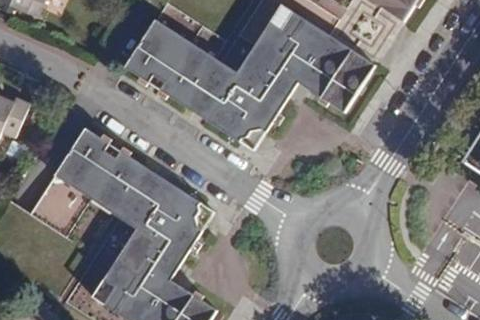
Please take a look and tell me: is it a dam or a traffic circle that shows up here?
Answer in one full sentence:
This aerial view contains a traffic circle.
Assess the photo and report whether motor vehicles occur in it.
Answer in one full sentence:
Yes, I can see a motor vehicle in this picture.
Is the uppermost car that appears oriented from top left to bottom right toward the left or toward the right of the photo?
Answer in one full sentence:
You can find the uppermost car that appears oriented from top left to bottom right on the left side of the picture.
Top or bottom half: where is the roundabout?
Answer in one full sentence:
The bottom half of the photo is where the roundabout is.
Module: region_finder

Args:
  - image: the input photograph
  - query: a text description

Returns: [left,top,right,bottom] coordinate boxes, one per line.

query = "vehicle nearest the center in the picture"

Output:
[226,150,252,171]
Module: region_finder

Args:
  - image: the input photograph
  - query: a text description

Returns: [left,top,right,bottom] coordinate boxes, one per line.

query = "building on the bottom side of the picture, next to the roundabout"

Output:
[30,127,218,320]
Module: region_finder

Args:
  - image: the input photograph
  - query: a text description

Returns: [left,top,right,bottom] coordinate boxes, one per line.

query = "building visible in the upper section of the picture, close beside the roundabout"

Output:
[126,2,378,140]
